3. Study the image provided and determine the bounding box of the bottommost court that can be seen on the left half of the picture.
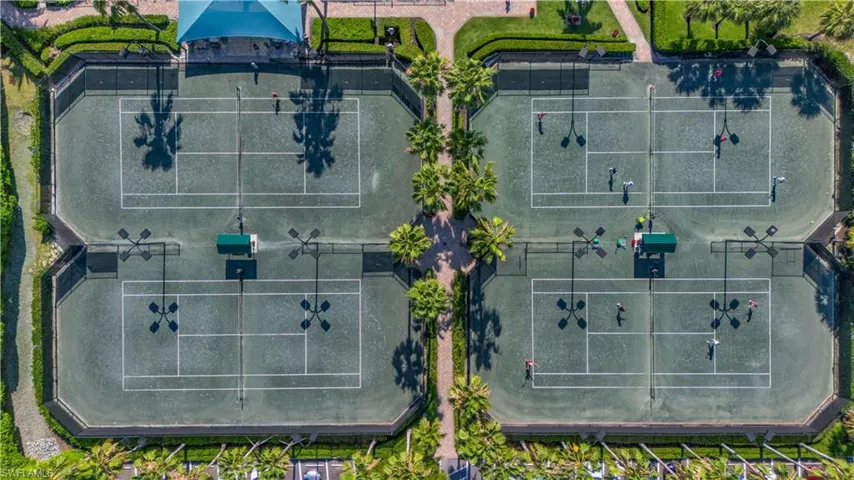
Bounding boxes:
[52,242,426,429]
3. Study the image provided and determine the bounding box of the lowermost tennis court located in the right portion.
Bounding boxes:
[468,243,836,428]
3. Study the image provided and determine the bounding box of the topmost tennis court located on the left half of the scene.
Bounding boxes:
[50,59,426,243]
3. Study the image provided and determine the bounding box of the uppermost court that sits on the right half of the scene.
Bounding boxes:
[468,59,837,244]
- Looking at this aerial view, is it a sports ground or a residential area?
sports ground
